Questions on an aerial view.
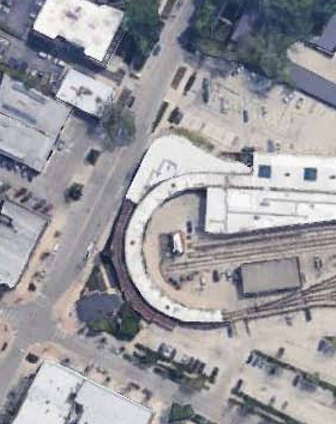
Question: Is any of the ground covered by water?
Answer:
No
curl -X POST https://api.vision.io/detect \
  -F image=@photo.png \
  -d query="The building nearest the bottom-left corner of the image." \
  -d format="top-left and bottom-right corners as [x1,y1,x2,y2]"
[13,358,85,424]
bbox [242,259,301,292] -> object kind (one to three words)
shed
